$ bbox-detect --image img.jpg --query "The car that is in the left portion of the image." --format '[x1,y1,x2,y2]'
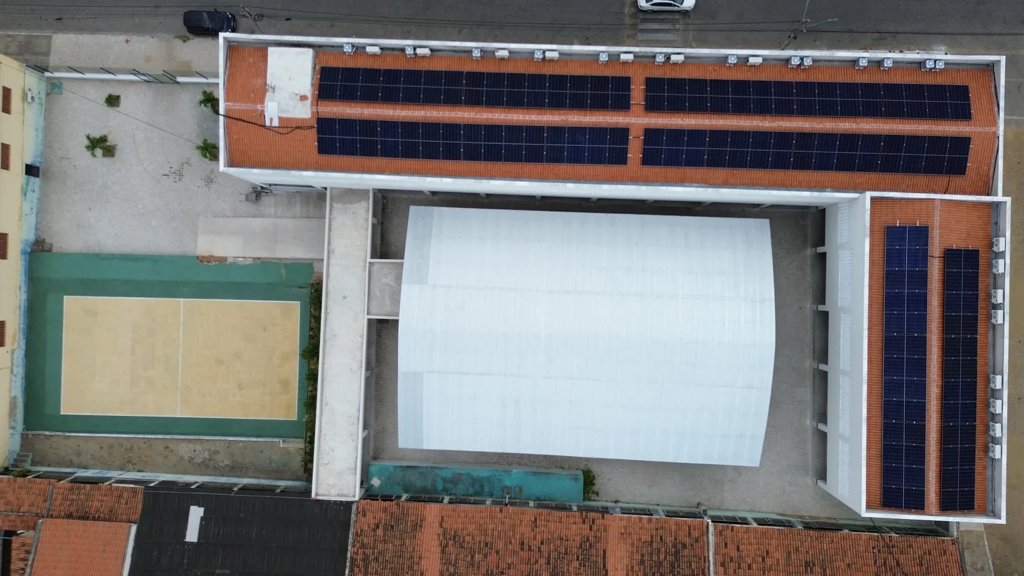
[180,10,239,39]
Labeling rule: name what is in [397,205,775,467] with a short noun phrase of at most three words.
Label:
building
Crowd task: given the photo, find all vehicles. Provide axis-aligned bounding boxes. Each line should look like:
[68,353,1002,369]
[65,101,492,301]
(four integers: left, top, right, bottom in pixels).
[636,0,698,14]
[180,10,239,39]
